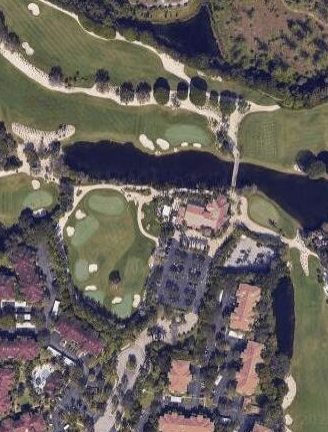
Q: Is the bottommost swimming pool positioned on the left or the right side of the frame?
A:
left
